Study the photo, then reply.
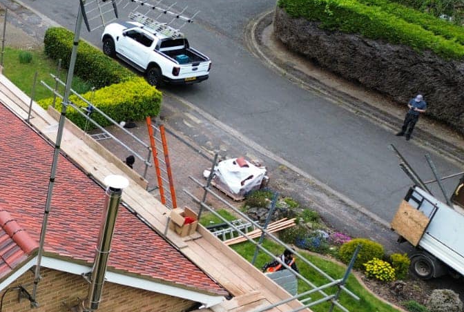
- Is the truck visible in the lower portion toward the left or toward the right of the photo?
right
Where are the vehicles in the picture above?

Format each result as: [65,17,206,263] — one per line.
[387,177,464,274]
[100,19,210,85]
